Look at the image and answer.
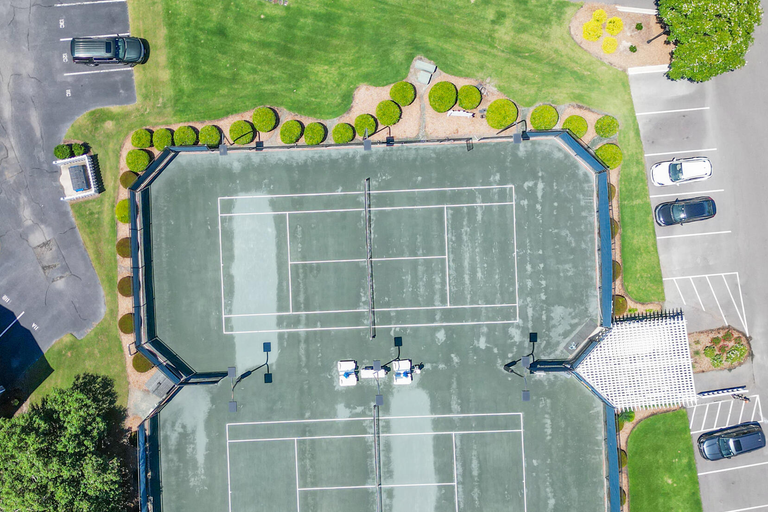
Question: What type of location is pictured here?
sports ground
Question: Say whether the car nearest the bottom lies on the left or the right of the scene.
right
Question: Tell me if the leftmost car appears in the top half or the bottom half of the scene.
top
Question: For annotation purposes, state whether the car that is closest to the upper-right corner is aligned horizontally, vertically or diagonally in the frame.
horizontally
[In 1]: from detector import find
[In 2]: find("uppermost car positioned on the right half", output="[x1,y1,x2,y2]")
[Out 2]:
[648,157,711,186]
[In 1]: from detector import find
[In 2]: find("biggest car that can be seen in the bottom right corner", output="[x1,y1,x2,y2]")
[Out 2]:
[694,423,767,460]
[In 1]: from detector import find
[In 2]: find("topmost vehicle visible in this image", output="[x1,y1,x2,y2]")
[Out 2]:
[70,33,144,67]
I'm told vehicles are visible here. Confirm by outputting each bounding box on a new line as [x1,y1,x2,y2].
[648,157,711,186]
[651,198,716,227]
[694,423,767,460]
[70,33,144,67]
